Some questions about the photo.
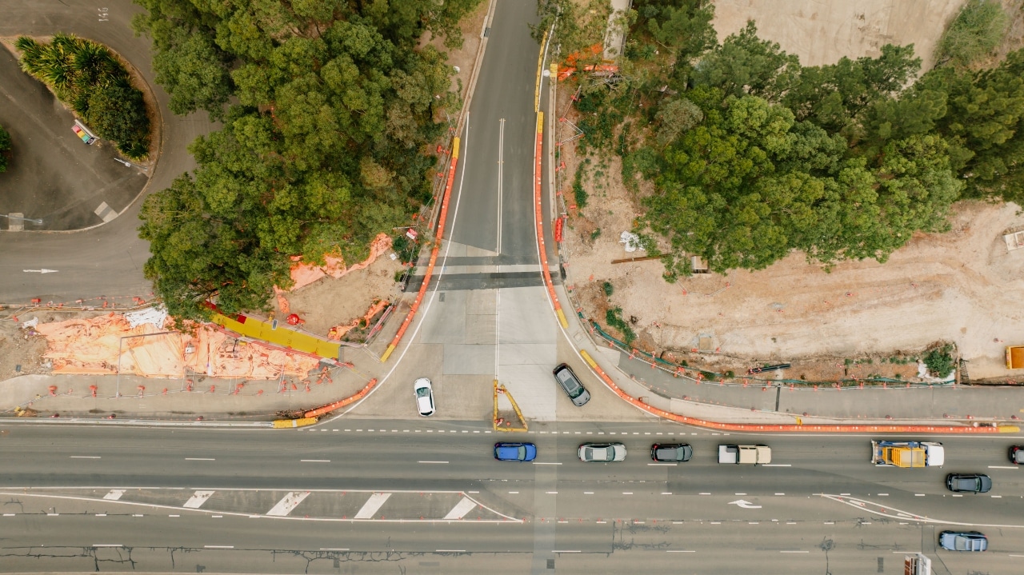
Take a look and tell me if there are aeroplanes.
No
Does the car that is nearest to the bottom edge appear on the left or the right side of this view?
right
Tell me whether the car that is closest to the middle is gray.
Yes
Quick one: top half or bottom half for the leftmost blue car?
bottom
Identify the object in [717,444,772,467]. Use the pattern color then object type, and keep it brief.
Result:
white truck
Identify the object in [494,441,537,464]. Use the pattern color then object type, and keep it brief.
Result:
blue car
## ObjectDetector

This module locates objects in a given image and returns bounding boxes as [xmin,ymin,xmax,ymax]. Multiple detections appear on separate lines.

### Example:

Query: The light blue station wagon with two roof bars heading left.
[937,529,990,553]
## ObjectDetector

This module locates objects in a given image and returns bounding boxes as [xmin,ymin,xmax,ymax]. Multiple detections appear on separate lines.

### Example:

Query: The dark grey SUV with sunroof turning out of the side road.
[553,361,589,408]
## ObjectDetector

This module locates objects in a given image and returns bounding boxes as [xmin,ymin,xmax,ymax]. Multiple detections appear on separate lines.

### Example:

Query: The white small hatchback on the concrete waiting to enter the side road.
[413,377,436,418]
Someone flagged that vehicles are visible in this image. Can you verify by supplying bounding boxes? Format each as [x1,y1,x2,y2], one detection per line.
[869,440,949,473]
[937,529,990,553]
[494,441,537,464]
[1004,444,1024,464]
[650,442,692,464]
[944,471,991,495]
[553,361,589,408]
[717,444,772,467]
[413,377,436,418]
[578,441,625,464]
